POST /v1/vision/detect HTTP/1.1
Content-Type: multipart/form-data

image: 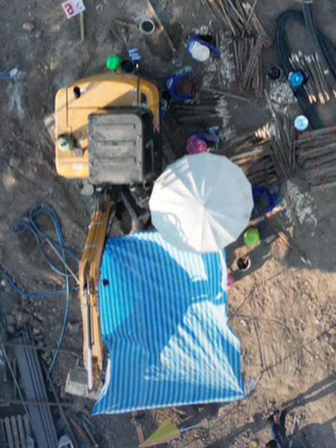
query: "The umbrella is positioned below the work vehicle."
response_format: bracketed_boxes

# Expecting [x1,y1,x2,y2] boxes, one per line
[139,419,206,448]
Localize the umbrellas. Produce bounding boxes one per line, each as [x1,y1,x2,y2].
[139,419,206,448]
[150,152,254,254]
